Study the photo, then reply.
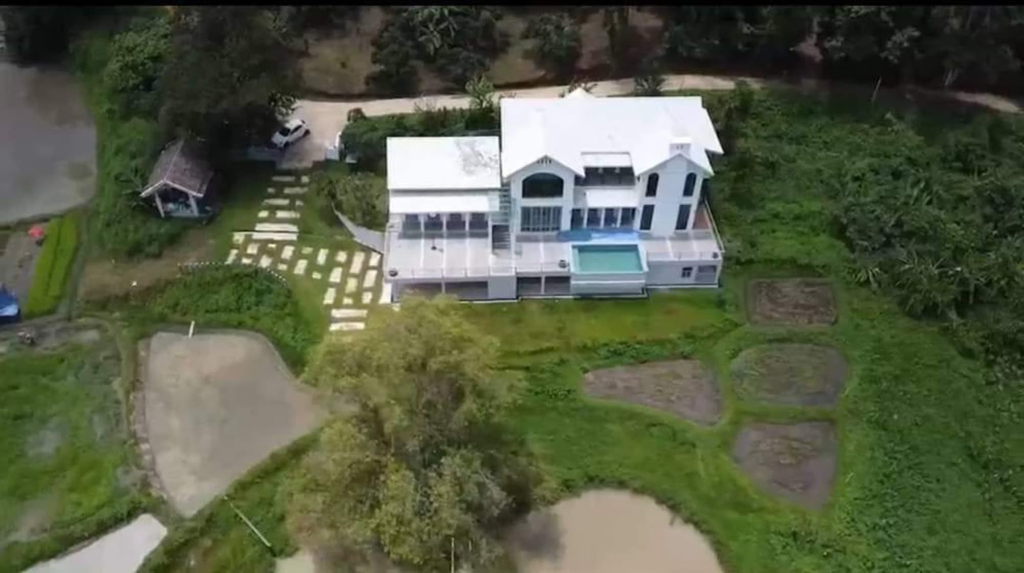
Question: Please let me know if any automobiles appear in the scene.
Yes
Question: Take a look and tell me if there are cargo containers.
No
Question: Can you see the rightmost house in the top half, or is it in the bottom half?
top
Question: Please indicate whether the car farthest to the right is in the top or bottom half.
top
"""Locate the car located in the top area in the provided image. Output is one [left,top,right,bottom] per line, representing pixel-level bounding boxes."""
[271,121,311,149]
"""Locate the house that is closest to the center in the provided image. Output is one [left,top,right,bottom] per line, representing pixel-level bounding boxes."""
[380,80,726,308]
